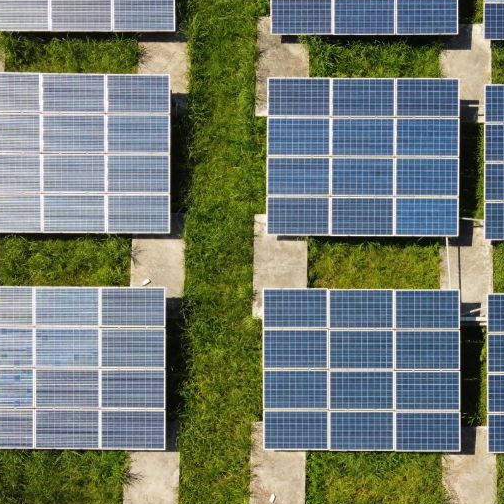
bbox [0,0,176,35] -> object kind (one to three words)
solar array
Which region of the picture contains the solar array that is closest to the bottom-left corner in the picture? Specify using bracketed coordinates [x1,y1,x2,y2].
[0,288,168,448]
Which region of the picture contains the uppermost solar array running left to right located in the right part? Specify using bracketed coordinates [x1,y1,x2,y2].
[271,0,459,39]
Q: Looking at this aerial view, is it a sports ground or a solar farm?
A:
solar farm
